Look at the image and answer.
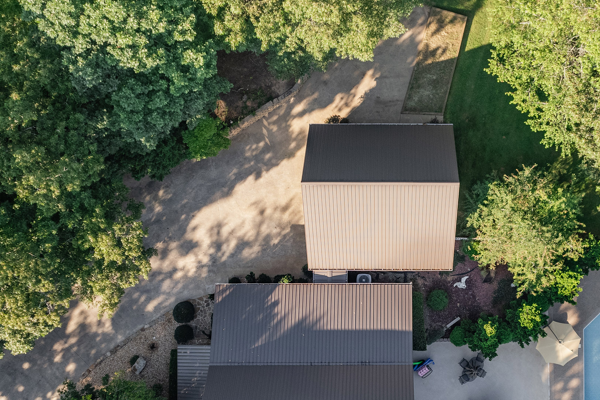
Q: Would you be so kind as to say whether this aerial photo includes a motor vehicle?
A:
No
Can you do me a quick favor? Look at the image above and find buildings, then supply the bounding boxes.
[178,280,415,400]
[301,122,460,272]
